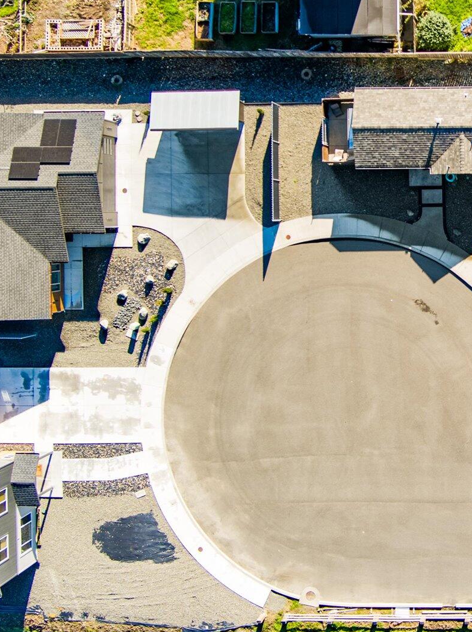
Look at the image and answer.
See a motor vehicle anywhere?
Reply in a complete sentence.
No, there's no motor vehicle here.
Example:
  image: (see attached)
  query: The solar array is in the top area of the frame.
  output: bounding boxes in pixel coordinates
[8,120,77,179]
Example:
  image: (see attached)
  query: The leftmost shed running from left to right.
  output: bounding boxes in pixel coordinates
[149,89,251,134]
